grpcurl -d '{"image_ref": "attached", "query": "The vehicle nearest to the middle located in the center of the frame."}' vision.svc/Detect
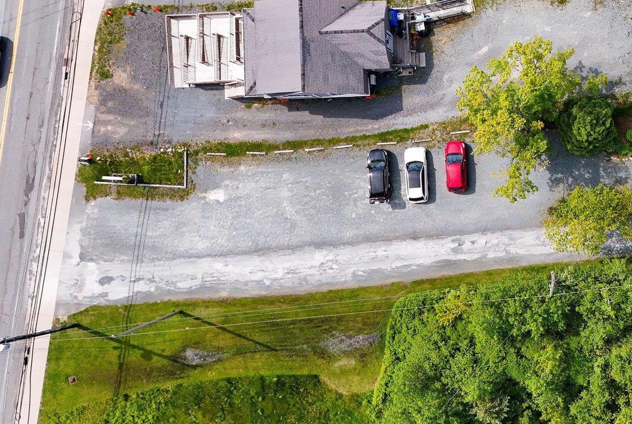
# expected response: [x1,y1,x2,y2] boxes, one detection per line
[365,148,393,204]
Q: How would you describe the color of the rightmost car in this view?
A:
red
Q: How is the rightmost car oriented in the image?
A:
up and down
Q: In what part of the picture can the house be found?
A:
top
